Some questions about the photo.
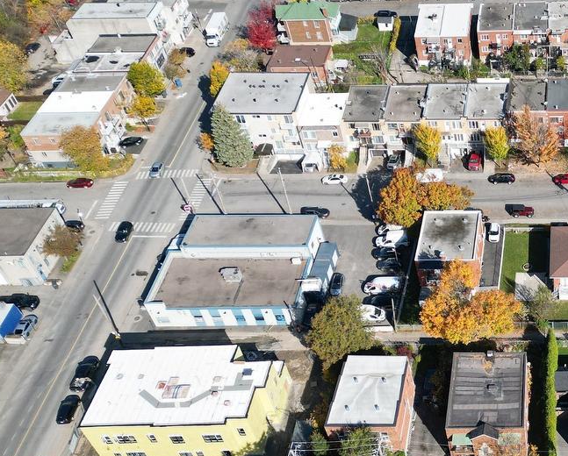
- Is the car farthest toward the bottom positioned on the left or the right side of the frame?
left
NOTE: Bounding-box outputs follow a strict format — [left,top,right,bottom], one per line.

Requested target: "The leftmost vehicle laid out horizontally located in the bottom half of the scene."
[0,292,42,309]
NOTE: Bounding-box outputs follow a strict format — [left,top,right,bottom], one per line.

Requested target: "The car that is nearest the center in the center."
[300,205,330,219]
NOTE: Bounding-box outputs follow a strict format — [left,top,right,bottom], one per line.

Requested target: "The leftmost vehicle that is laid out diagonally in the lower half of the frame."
[6,310,48,342]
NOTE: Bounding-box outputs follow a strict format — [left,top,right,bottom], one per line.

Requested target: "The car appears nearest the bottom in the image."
[56,393,84,423]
